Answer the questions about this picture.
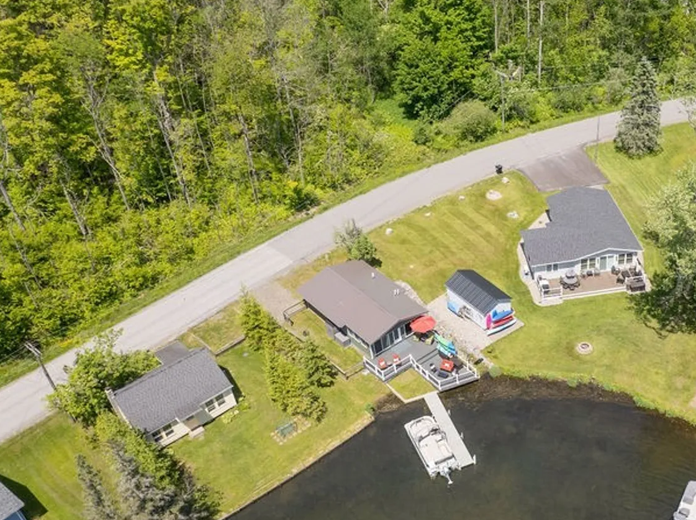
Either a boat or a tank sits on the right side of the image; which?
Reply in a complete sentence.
There is a boat on the right side of the image.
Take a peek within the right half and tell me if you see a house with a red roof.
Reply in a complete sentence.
No, I can find no house with a red roof within the right half.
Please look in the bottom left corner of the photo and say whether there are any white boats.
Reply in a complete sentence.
No, I see no white boat in the bottom left corner of the photo.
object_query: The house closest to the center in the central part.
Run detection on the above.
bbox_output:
[300,261,429,360]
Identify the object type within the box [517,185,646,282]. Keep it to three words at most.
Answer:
house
